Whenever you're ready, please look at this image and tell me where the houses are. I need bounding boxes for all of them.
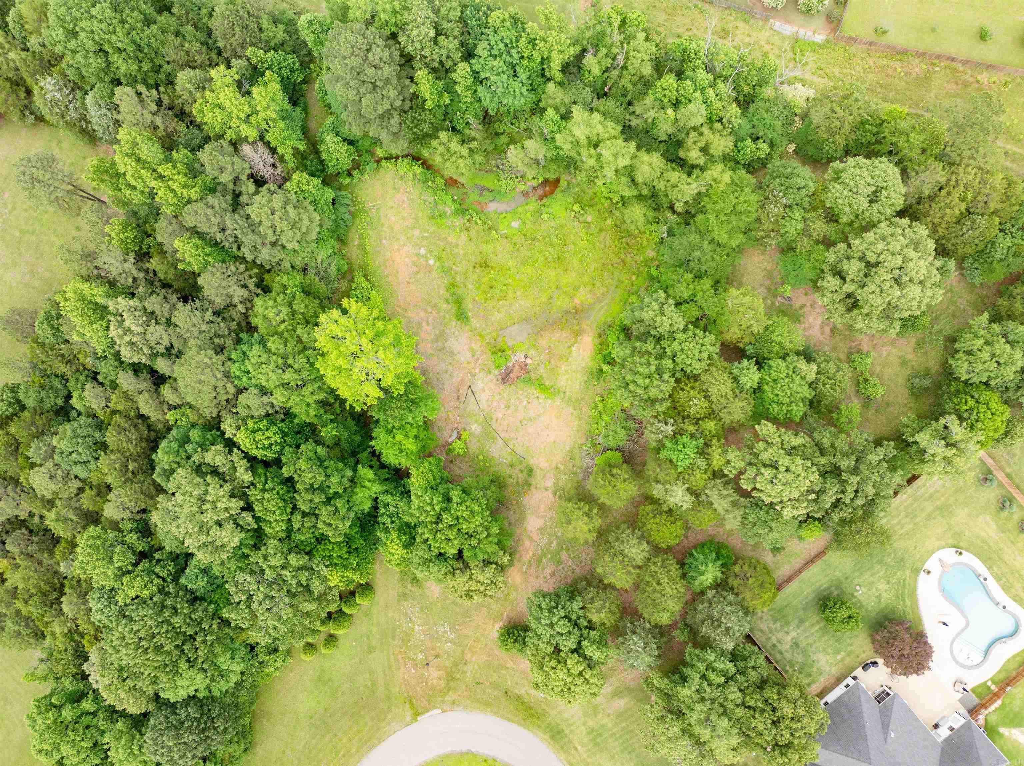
[797,677,1008,766]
